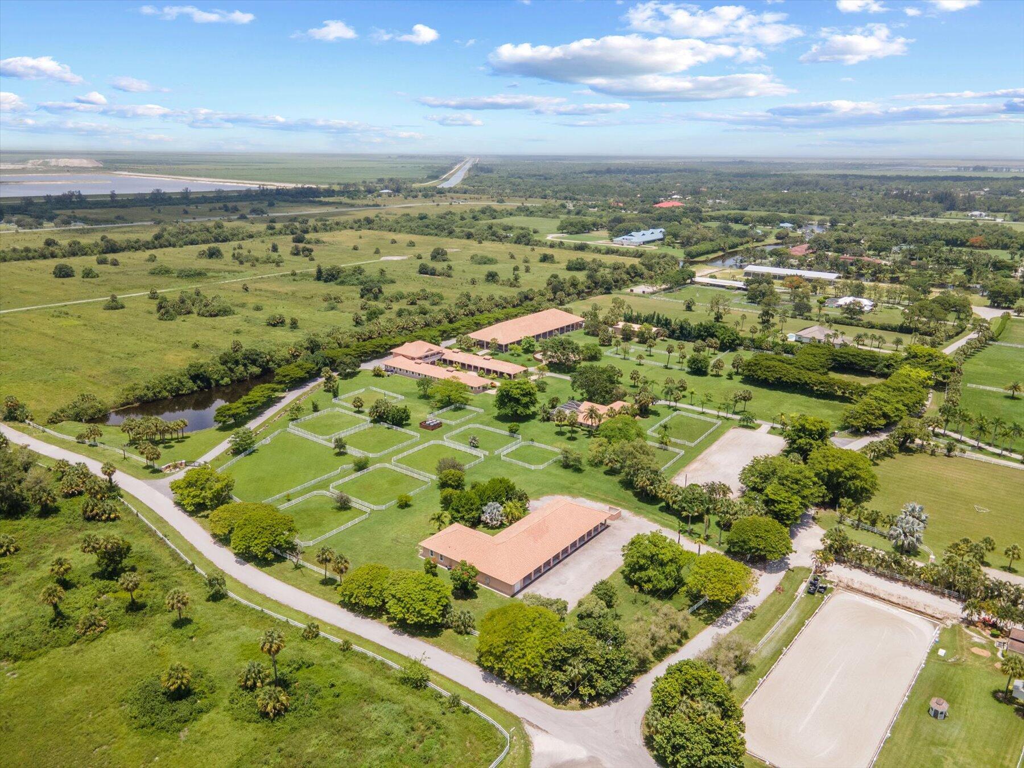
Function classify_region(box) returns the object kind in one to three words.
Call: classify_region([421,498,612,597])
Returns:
building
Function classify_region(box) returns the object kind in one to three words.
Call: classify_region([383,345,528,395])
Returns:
building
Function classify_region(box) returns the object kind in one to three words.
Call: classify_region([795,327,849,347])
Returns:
house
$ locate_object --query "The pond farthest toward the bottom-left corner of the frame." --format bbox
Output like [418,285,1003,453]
[90,368,278,432]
